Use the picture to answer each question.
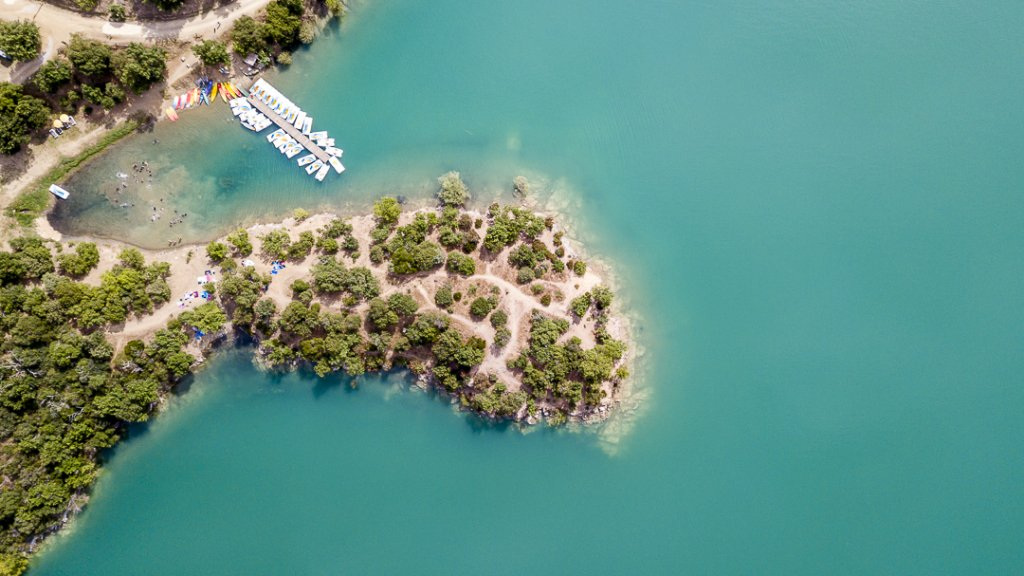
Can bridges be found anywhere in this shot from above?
No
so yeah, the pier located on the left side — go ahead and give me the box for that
[245,92,330,162]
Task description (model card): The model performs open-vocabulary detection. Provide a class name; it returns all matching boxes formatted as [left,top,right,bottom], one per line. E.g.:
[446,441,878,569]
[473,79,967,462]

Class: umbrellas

[53,119,65,128]
[60,113,70,123]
